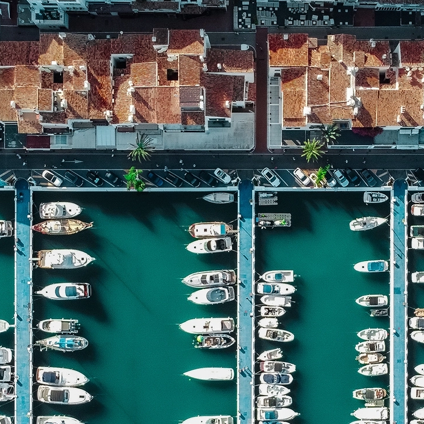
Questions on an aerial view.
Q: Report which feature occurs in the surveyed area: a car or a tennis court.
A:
car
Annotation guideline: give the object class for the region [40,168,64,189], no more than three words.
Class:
car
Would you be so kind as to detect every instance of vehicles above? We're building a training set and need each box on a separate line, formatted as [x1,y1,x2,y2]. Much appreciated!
[323,169,341,190]
[331,167,351,190]
[211,165,232,187]
[343,165,364,189]
[258,165,282,189]
[291,165,312,188]
[102,168,126,189]
[60,168,83,189]
[359,167,380,189]
[162,169,184,190]
[83,168,106,189]
[40,168,64,189]
[181,169,204,190]
[196,167,220,189]
[143,168,166,190]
